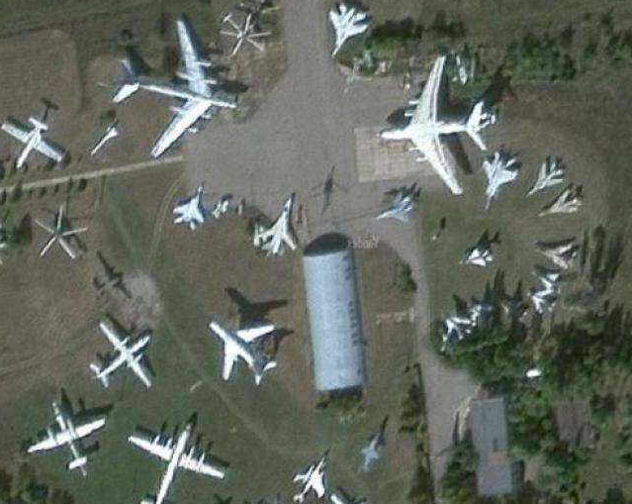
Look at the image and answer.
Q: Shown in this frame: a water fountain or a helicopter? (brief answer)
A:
helicopter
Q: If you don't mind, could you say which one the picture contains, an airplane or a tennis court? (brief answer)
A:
airplane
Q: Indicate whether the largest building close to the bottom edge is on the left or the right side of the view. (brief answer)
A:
right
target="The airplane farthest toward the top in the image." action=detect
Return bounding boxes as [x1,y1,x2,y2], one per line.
[331,2,367,54]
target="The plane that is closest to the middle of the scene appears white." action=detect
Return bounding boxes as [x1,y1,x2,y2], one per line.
[256,195,295,257]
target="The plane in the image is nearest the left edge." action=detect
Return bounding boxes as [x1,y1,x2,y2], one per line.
[2,114,60,169]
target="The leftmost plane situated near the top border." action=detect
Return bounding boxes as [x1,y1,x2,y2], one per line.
[113,22,236,159]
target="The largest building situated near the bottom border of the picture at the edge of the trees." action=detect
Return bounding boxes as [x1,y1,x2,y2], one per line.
[470,397,533,495]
